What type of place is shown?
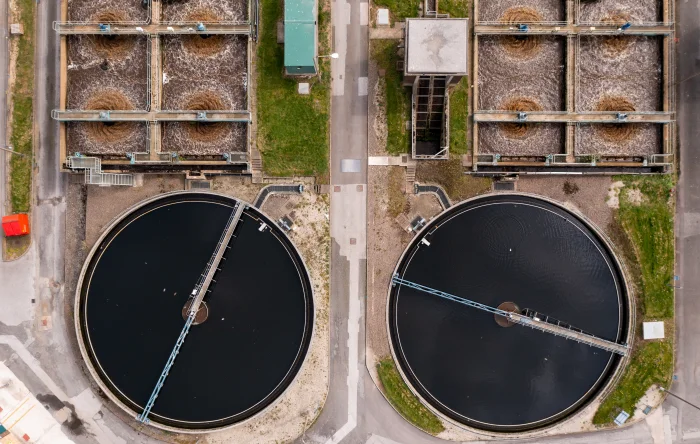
industrial area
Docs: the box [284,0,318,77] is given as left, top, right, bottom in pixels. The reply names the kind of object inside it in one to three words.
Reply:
shed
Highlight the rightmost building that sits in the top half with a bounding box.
[402,18,468,83]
